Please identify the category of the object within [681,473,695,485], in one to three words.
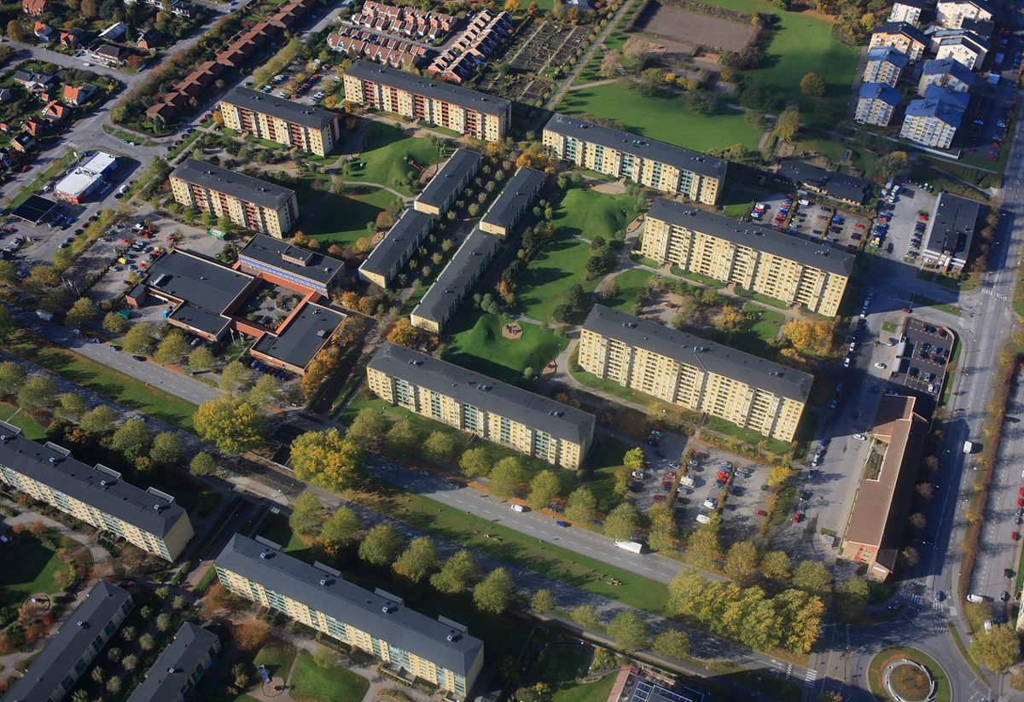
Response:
vehicle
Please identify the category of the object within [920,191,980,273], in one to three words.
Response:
building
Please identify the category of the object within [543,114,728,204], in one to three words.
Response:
building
